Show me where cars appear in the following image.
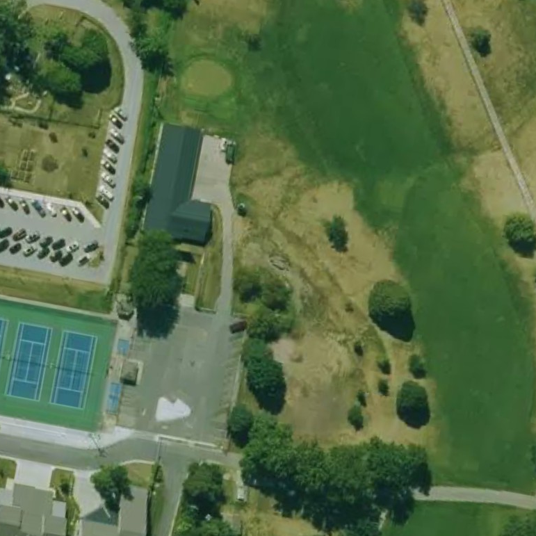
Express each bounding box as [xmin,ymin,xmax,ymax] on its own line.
[60,207,72,222]
[25,232,40,242]
[65,241,80,253]
[45,202,57,216]
[36,247,51,259]
[50,238,65,250]
[13,228,27,240]
[101,174,115,186]
[0,240,10,250]
[97,195,111,208]
[99,185,113,199]
[0,227,12,239]
[105,139,121,153]
[84,240,98,252]
[101,161,115,173]
[8,242,23,254]
[72,207,84,222]
[32,199,45,216]
[229,322,246,331]
[103,150,117,163]
[109,114,123,127]
[49,250,63,262]
[18,199,30,214]
[76,254,91,266]
[111,129,125,142]
[39,236,53,247]
[22,246,36,257]
[5,197,17,211]
[113,108,127,121]
[59,252,74,264]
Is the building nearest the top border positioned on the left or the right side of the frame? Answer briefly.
left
